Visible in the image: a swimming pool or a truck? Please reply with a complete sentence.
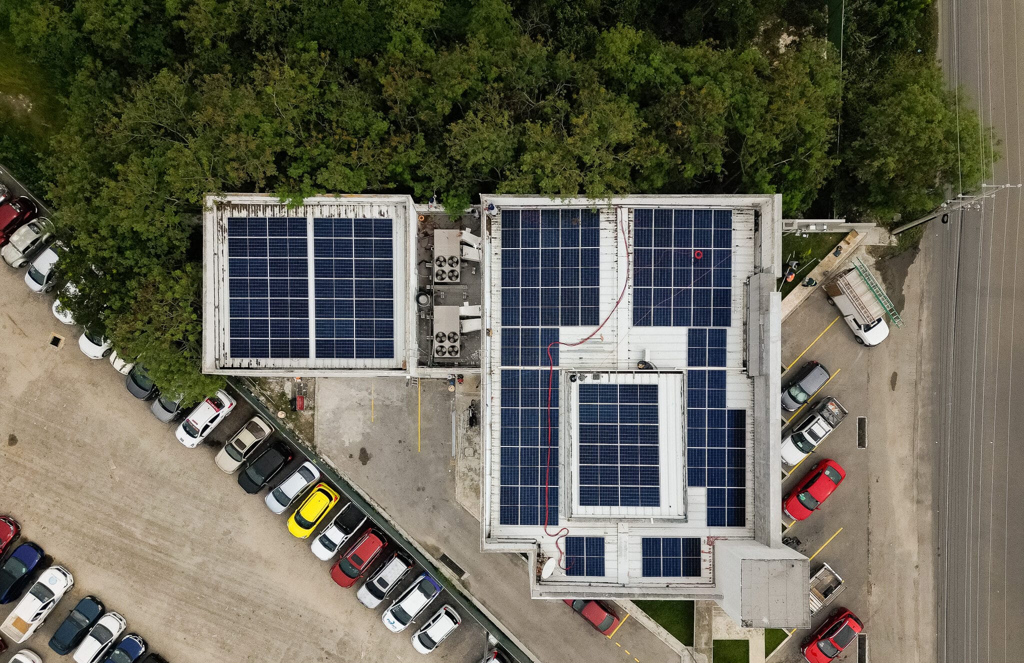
Looking from above, you can make out a truck.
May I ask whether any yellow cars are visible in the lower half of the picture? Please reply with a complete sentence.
Yes, in the lower half of the picture there is a yellow car.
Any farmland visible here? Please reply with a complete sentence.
No, there is no farmland in the image.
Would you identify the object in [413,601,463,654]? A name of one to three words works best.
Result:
car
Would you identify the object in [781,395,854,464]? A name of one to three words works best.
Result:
truck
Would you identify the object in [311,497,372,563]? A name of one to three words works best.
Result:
truck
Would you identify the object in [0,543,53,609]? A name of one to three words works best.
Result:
car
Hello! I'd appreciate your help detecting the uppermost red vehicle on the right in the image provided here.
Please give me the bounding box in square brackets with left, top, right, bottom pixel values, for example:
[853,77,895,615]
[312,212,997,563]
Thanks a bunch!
[785,459,844,520]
